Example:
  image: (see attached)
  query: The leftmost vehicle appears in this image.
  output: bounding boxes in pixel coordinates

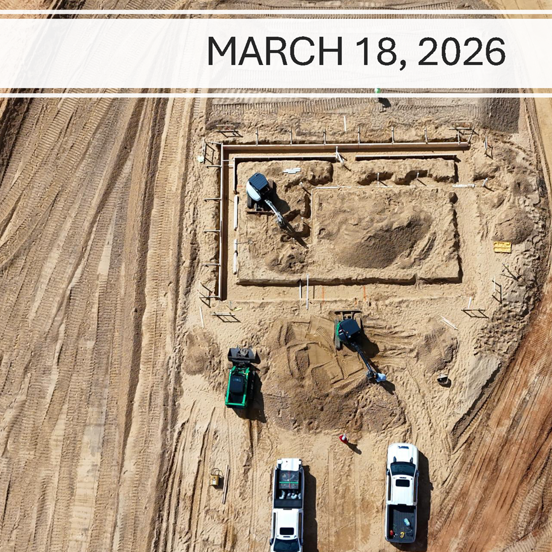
[223,353,259,411]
